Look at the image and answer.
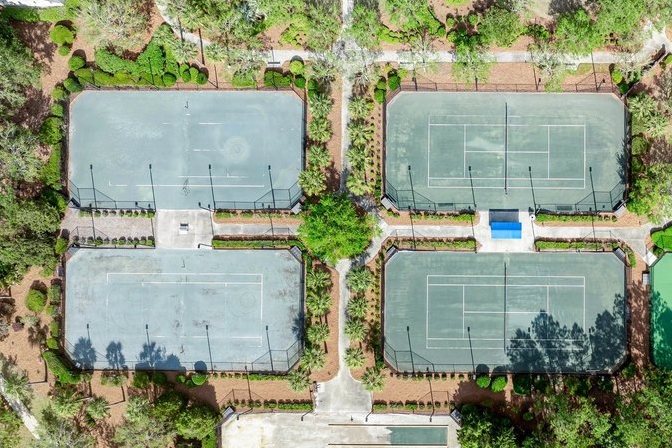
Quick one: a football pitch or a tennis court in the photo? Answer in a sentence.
Of the two, only a tennis court appears.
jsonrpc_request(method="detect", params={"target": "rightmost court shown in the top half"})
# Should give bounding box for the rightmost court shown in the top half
[385,92,627,212]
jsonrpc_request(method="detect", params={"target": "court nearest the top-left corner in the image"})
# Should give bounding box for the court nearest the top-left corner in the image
[68,91,302,210]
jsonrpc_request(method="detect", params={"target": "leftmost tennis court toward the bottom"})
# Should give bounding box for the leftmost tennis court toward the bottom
[64,249,302,372]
